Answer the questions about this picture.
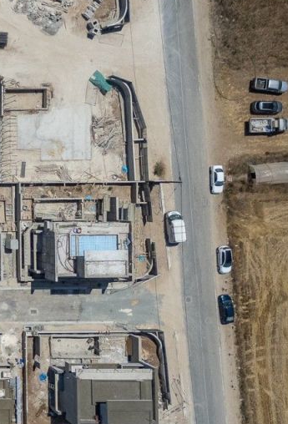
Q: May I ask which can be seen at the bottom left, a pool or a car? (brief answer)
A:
pool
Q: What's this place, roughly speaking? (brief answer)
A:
residential area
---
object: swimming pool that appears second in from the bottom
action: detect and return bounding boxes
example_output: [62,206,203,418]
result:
[29,197,81,220]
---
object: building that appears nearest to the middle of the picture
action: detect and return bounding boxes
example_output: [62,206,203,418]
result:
[38,220,130,281]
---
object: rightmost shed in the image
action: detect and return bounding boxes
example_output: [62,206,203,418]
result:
[248,162,288,186]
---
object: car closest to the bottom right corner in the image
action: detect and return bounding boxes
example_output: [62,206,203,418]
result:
[215,293,233,324]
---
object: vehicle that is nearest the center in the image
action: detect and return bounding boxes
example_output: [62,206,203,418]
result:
[165,211,187,244]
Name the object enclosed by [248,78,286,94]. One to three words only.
vehicle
